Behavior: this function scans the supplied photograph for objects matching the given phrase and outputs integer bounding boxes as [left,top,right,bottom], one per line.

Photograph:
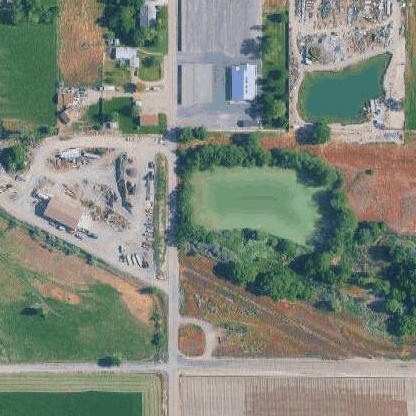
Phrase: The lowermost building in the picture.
[44,197,83,230]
